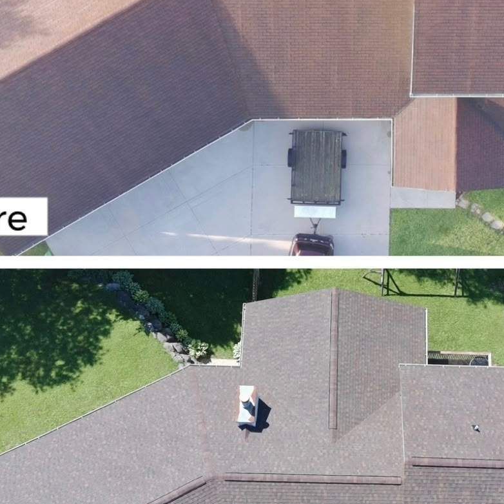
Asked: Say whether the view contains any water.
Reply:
No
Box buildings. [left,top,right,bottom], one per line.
[0,0,504,261]
[0,288,504,504]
